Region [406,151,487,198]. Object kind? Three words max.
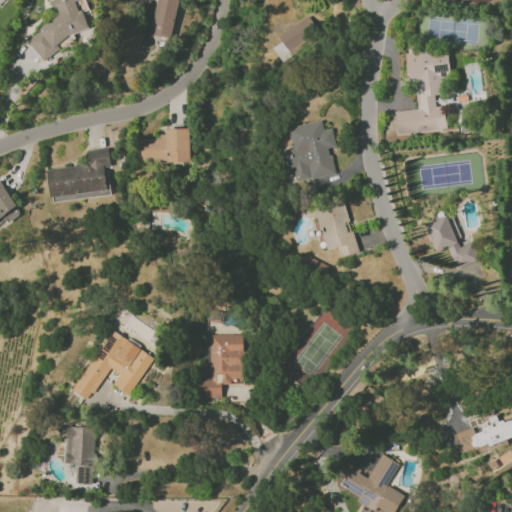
tennis court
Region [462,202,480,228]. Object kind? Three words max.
swimming pool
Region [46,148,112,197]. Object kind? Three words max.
house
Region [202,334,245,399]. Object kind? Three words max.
house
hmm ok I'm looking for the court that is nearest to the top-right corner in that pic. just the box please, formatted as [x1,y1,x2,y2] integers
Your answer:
[420,15,490,50]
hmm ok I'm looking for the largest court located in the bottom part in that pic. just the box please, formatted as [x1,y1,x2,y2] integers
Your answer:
[292,312,350,383]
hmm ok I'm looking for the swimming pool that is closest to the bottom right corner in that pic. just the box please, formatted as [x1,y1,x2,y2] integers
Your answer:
[400,462,416,487]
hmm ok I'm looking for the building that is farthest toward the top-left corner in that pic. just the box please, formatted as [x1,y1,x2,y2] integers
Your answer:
[28,0,90,58]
